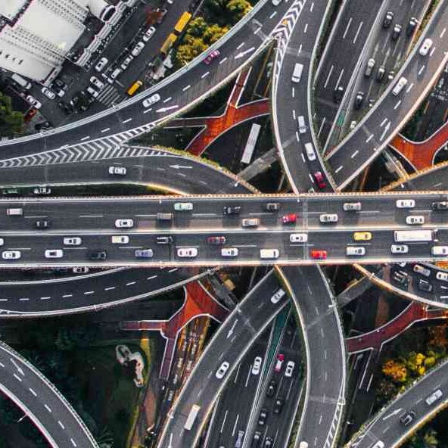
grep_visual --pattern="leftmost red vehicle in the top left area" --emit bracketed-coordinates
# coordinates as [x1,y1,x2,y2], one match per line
[24,106,39,122]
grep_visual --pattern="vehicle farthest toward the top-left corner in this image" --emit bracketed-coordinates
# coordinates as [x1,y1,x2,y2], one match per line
[12,73,30,87]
